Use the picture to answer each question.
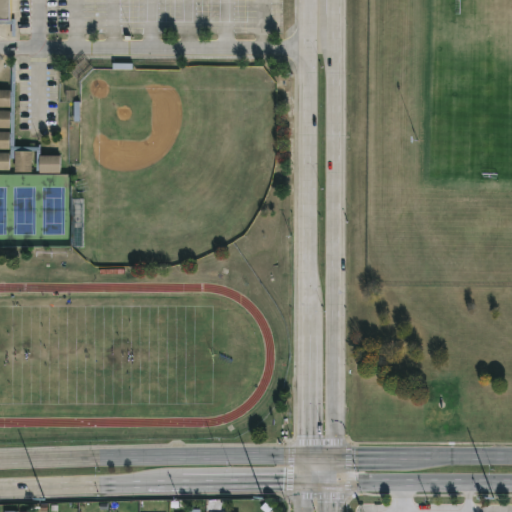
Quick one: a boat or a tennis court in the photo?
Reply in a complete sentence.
I can see a tennis court in this picture.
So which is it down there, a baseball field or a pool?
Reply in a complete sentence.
Looking from above, you can make out a baseball field.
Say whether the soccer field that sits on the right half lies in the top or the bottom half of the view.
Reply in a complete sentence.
The soccer field that sits on the right half sits in the top half of the picture.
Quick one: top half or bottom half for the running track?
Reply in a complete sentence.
The bottom half of the photo is where the running track is.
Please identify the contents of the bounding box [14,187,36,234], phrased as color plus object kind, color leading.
blue tennis court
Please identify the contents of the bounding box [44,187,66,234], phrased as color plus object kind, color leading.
blue tennis court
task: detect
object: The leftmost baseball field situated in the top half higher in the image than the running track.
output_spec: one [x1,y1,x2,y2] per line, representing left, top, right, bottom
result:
[82,66,276,267]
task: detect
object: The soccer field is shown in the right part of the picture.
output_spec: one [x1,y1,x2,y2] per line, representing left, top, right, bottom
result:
[432,0,512,184]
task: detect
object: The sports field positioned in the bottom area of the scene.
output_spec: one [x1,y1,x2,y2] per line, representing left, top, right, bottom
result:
[0,306,214,404]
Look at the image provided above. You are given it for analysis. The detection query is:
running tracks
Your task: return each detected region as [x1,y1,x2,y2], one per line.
[0,282,276,428]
